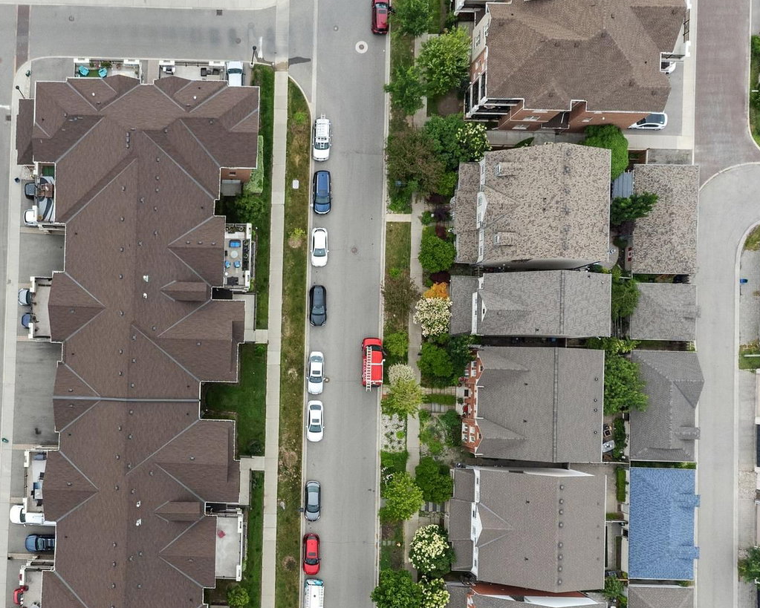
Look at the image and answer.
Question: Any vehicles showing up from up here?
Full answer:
Yes, there's a vehicle here.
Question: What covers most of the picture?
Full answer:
What you mostly see from above here is buildings.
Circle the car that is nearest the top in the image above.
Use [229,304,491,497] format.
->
[370,0,391,36]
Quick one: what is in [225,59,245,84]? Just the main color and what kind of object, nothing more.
white car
